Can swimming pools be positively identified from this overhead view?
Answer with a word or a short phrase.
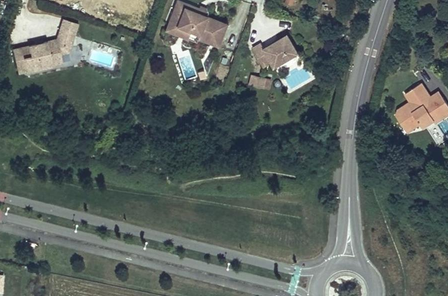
Yes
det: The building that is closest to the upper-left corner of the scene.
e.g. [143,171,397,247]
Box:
[12,18,78,74]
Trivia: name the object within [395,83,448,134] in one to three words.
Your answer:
house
